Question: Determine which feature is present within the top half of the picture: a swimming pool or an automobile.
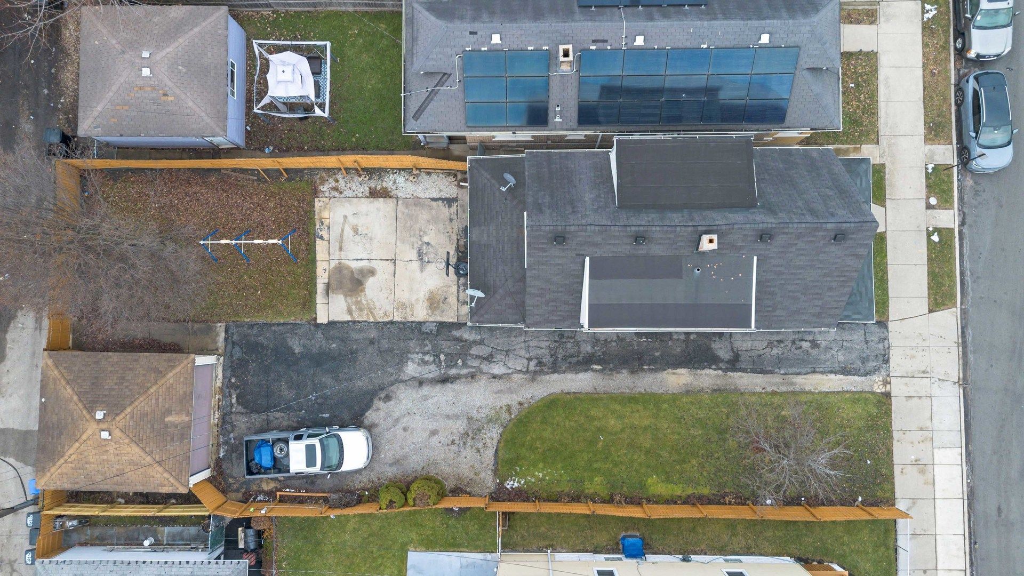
automobile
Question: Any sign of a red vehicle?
No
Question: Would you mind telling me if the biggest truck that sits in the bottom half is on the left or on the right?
left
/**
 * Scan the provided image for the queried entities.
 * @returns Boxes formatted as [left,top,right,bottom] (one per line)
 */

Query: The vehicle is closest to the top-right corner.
[954,0,1021,64]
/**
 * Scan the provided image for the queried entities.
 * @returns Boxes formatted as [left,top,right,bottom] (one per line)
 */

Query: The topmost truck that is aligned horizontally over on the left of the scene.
[246,425,377,481]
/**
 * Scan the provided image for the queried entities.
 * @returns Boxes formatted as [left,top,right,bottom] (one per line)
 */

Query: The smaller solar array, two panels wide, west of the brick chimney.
[464,43,548,127]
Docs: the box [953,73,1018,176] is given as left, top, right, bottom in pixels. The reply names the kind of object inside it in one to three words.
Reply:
car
